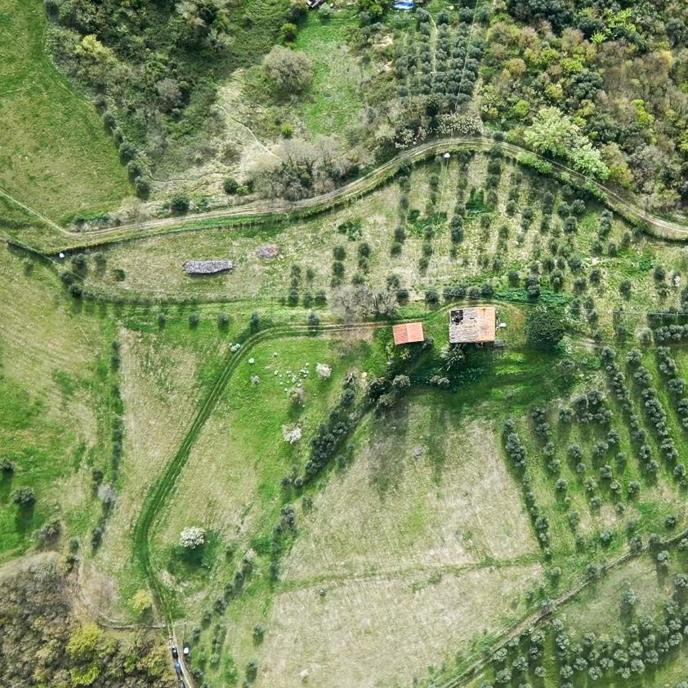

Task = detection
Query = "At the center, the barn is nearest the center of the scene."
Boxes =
[393,319,424,345]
